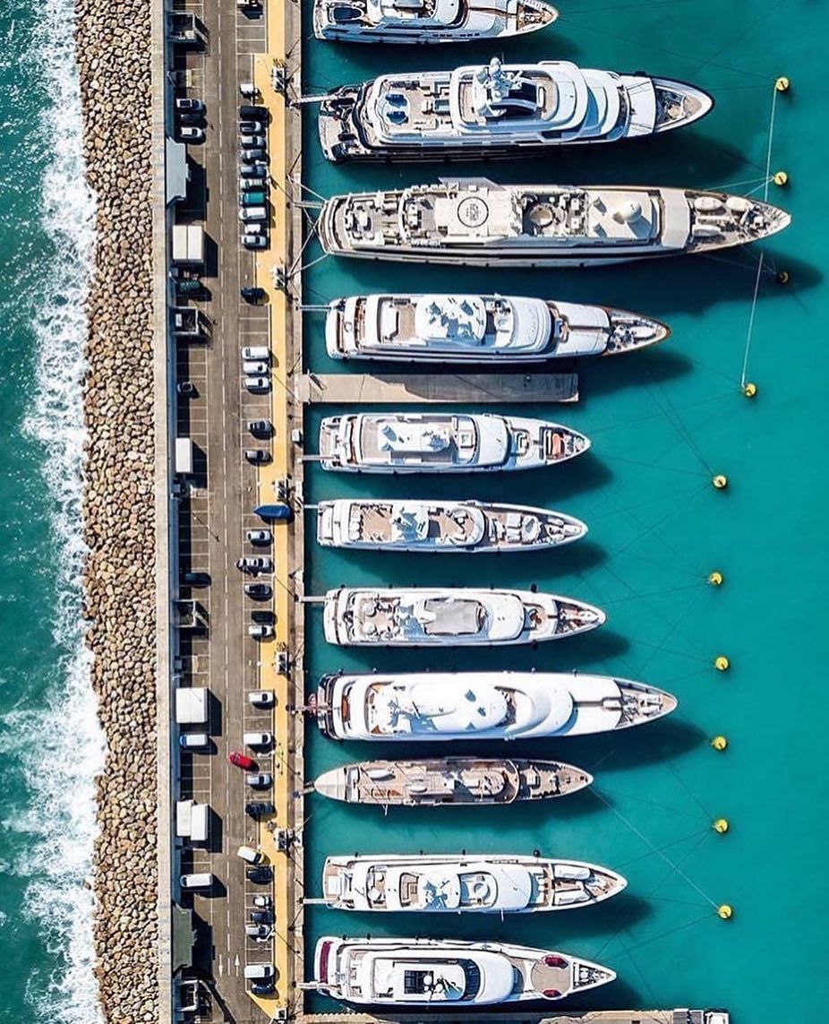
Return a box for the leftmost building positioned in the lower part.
[173,902,197,972]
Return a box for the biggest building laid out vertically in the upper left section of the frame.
[166,136,192,208]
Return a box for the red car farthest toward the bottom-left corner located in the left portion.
[228,752,254,771]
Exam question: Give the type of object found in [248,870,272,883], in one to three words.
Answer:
vehicle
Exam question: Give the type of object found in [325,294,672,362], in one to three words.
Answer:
boat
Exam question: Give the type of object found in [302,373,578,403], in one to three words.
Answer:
pier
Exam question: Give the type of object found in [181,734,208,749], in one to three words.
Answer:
vehicle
